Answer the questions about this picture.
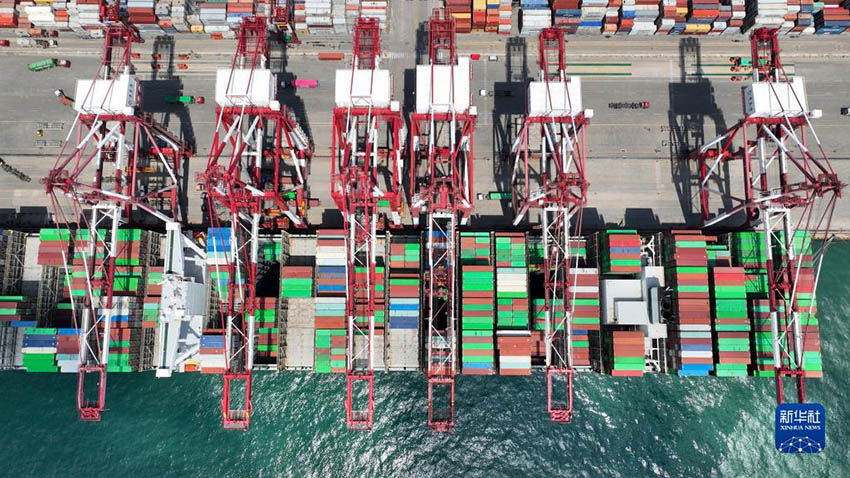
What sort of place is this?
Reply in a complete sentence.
The area seen from above is a port.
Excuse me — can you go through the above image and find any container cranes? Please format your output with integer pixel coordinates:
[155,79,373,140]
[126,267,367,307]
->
[196,16,312,428]
[272,0,305,39]
[41,20,203,418]
[406,7,487,430]
[330,14,408,429]
[496,25,599,421]
[675,25,846,422]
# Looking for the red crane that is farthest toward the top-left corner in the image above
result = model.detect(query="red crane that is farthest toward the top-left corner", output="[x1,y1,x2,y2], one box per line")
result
[97,0,126,29]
